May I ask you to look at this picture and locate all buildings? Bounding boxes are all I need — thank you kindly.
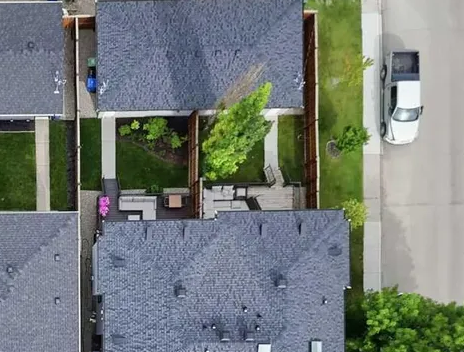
[0,1,65,123]
[0,210,83,352]
[91,209,351,352]
[95,0,308,118]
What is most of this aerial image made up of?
buildings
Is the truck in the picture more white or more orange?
white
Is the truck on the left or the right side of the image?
right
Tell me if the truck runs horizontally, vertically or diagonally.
vertically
